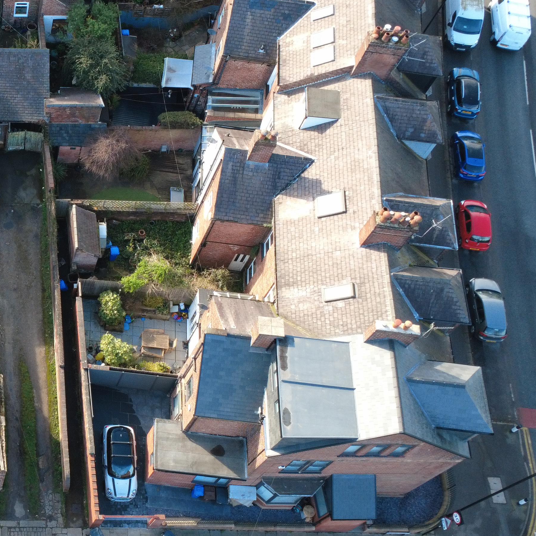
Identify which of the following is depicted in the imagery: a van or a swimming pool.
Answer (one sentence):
Of the two, only a van appears.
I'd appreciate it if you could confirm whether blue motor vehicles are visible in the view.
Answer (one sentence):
Yes, a blue motor vehicle can be made out from above.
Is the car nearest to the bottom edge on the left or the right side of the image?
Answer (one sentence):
The car nearest to the bottom edge appears in the left half of the scene.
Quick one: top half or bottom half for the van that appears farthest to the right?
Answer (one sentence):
Seen from above, the van that appears farthest to the right lies in the top half of the view.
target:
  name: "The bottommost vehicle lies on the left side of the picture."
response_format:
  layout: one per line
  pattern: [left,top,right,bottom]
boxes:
[102,426,142,502]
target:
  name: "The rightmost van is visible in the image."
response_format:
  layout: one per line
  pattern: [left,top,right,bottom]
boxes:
[490,2,536,51]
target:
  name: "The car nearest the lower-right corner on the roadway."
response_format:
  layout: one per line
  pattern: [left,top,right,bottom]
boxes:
[466,279,510,349]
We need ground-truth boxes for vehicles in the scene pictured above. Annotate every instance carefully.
[454,199,494,257]
[447,73,483,119]
[449,131,488,186]
[466,279,510,349]
[447,0,492,49]
[490,2,536,51]
[102,426,142,502]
